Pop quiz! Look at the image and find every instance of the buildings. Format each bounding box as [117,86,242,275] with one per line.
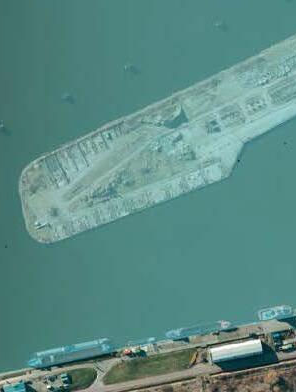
[210,340,263,363]
[2,382,26,392]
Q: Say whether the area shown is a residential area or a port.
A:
port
